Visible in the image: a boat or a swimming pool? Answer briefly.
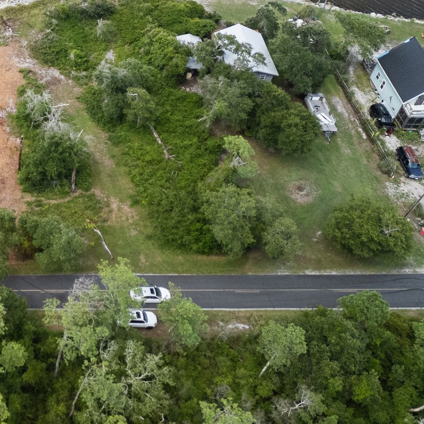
boat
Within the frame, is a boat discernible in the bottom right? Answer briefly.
No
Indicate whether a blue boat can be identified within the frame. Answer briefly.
No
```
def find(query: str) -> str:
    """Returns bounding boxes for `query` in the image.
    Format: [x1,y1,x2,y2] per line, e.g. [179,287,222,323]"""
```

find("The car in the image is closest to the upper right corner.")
[368,104,393,131]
